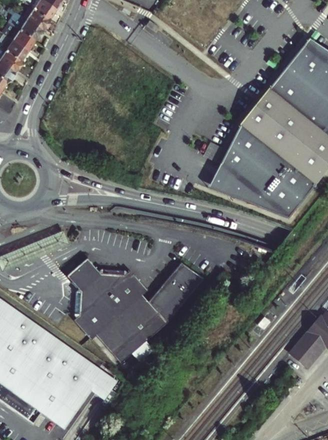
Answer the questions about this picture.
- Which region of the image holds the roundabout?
left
